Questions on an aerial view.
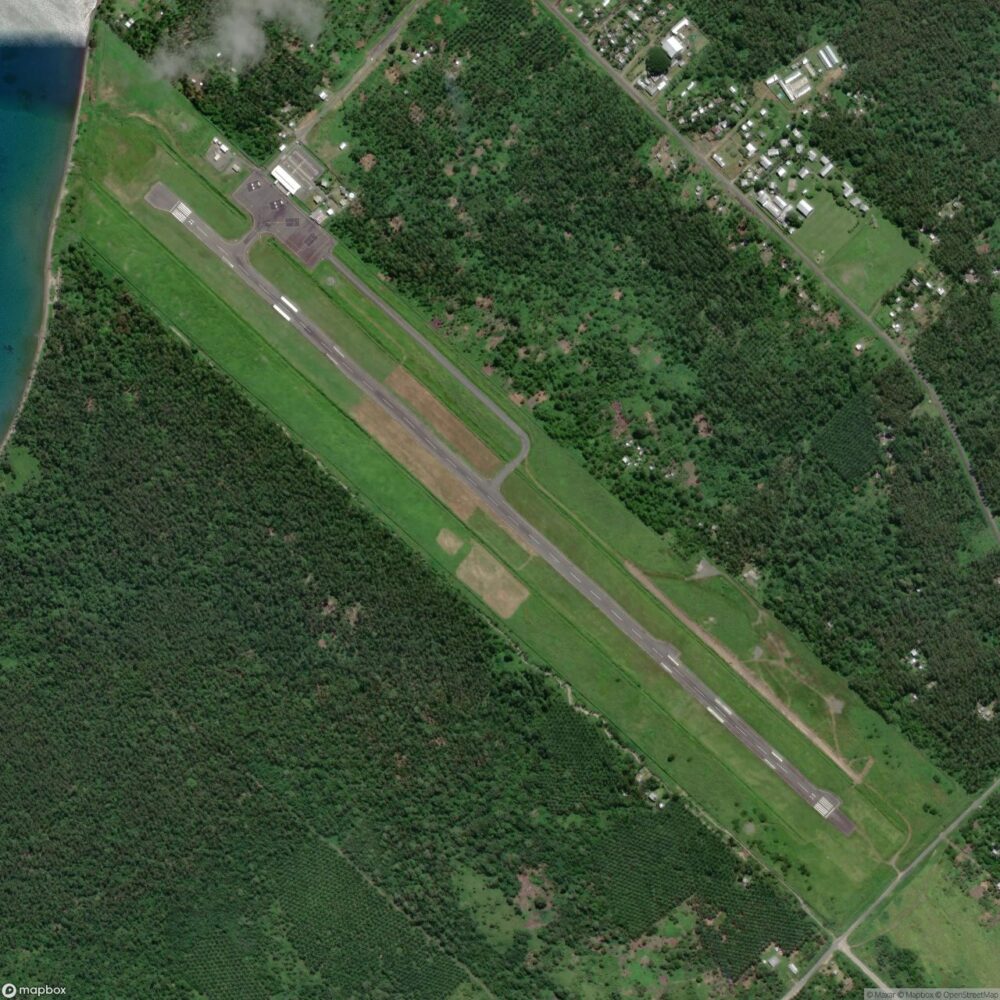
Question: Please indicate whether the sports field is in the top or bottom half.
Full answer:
It is in the top half that the sports field appears.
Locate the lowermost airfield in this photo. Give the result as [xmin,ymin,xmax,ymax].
[144,143,856,836]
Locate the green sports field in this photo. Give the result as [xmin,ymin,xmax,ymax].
[801,191,856,266]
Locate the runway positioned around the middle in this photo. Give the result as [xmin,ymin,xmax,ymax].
[144,181,856,836]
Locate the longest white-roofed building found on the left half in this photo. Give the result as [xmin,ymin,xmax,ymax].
[271,165,301,196]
